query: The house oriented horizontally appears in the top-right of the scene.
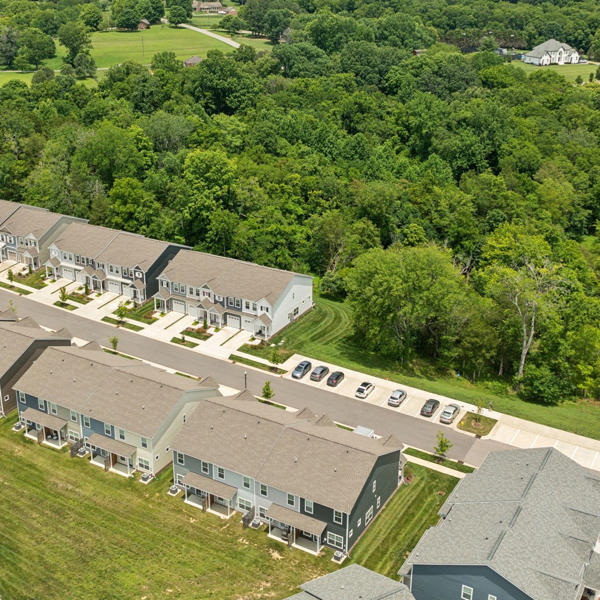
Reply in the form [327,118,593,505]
[526,39,586,66]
